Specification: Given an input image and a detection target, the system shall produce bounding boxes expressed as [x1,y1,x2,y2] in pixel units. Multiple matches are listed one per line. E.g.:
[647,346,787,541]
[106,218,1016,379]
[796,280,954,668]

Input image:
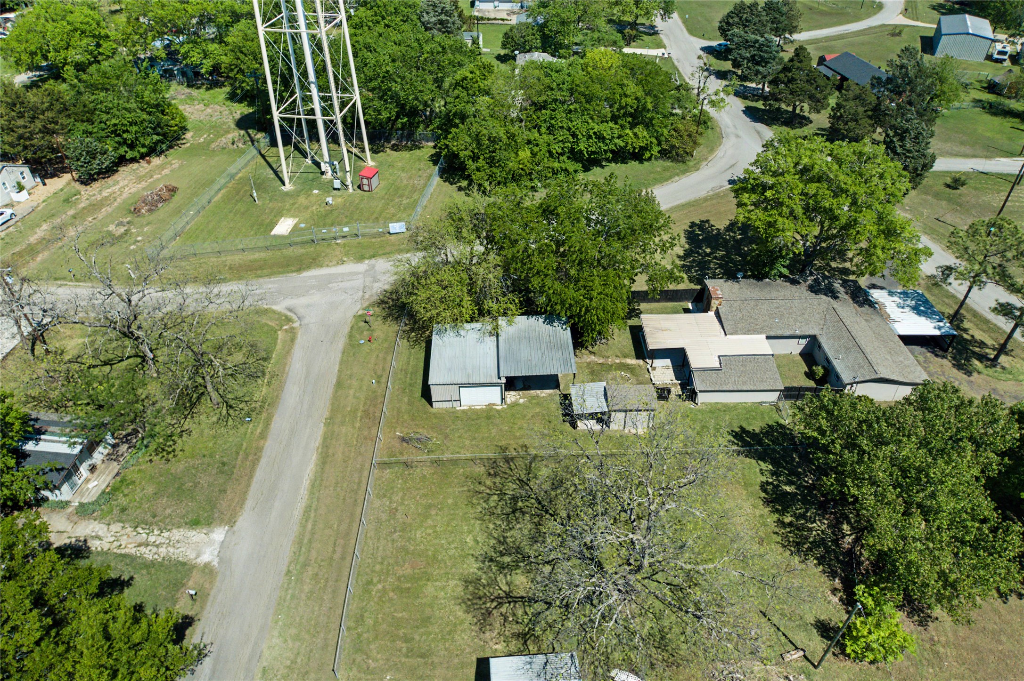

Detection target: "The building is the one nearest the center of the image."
[428,315,576,408]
